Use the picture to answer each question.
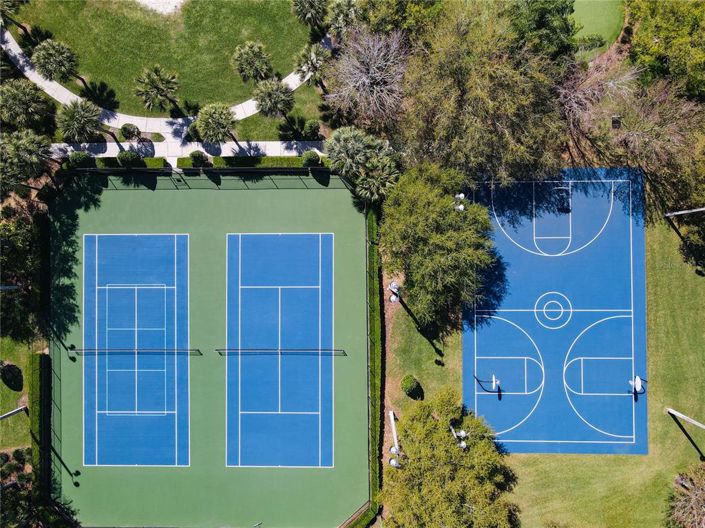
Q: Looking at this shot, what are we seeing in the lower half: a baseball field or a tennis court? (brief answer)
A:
tennis court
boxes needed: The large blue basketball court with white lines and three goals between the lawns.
[461,167,648,454]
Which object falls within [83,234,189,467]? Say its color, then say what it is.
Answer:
blue tennis court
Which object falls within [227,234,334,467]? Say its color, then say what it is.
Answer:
blue tennis court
